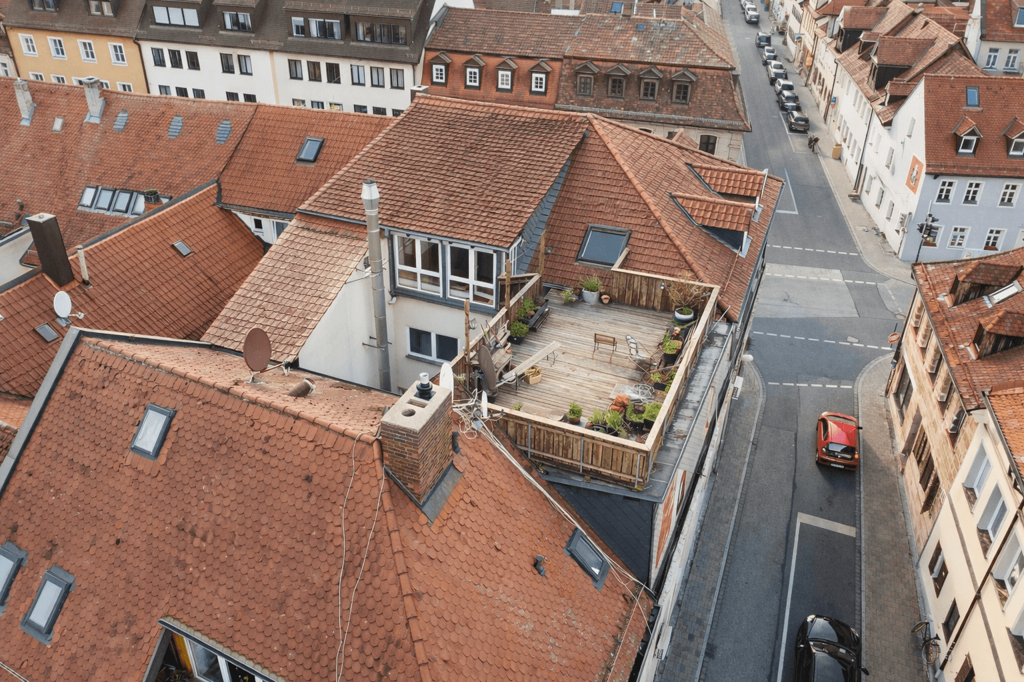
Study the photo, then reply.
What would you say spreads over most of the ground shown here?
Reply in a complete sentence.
The bulk of the photo consists of buildings.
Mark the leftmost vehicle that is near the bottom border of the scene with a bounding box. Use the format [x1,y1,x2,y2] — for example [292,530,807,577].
[799,611,871,682]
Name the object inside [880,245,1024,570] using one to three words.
house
